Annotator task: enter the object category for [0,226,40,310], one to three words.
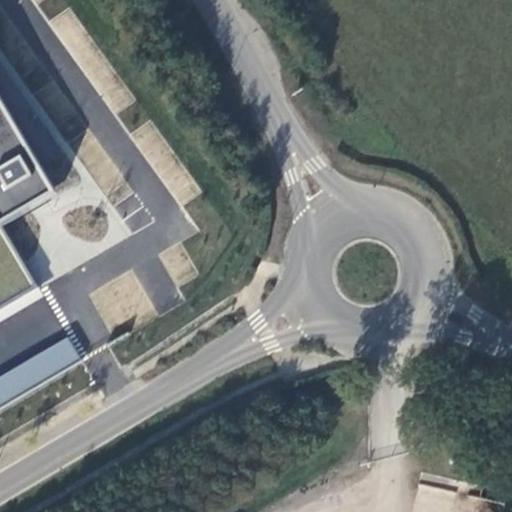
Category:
building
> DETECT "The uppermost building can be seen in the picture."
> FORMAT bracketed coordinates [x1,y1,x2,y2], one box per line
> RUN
[0,98,56,227]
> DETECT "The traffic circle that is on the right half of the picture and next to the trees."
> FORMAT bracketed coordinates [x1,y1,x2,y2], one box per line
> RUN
[247,156,496,358]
